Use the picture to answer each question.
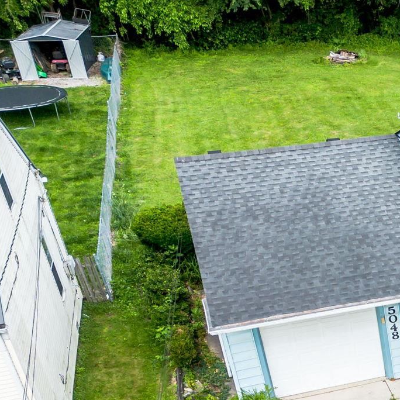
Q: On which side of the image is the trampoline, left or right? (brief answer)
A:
left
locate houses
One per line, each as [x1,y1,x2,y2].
[0,89,83,400]
[173,129,400,400]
